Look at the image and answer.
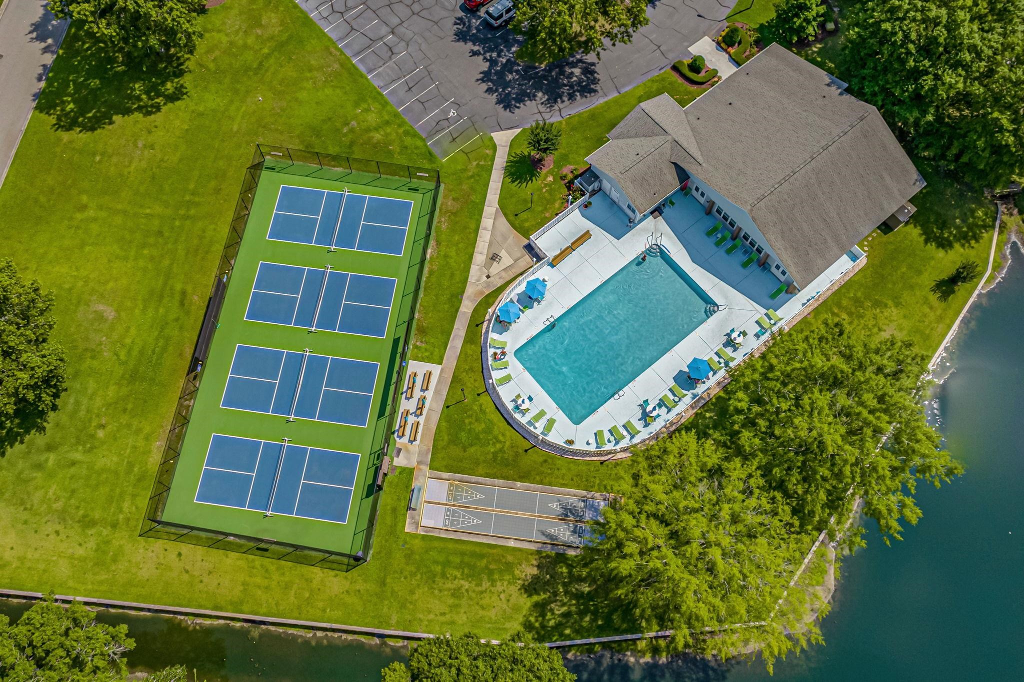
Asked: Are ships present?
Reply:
No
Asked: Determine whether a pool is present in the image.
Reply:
Yes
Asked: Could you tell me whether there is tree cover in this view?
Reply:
Yes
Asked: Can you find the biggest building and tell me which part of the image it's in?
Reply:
top right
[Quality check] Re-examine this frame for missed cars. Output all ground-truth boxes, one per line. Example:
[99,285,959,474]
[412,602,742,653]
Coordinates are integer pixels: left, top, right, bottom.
[465,0,494,12]
[486,0,526,28]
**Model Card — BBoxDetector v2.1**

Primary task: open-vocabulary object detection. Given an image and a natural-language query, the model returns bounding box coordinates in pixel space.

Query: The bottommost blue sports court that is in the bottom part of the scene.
[194,434,361,523]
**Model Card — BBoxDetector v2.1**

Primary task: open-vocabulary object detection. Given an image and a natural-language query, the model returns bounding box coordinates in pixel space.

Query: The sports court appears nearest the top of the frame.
[266,184,414,256]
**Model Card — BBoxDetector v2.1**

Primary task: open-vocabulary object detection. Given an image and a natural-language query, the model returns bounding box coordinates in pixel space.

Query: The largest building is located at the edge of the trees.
[585,42,927,296]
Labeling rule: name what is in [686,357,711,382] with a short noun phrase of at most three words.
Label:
umbrella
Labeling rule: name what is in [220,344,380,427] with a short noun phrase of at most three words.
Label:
sports court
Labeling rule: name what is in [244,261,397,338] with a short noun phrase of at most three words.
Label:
sports court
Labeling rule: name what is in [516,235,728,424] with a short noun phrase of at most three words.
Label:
swimming pool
